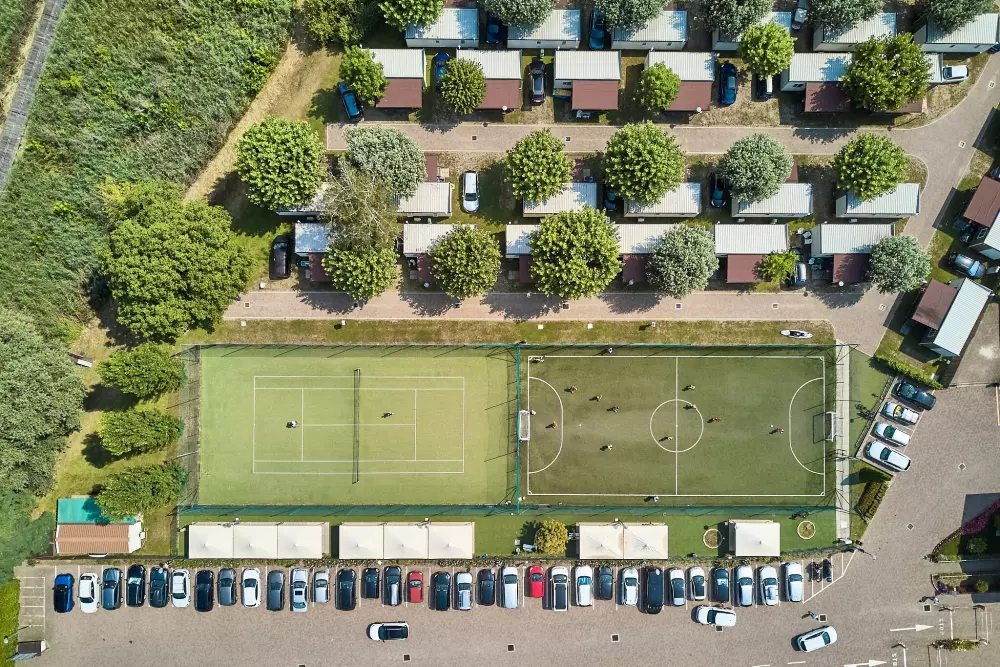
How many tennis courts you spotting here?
1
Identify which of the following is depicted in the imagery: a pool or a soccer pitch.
soccer pitch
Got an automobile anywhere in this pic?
Yes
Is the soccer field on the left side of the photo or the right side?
right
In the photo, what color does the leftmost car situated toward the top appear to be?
black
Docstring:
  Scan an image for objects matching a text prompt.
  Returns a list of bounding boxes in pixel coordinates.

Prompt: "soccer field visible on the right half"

[518,345,836,506]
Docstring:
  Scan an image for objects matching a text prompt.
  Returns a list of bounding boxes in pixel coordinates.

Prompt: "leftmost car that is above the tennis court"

[270,235,292,278]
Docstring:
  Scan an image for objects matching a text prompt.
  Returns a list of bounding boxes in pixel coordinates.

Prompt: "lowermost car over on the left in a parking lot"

[369,621,408,643]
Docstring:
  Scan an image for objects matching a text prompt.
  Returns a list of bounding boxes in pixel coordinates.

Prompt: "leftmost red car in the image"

[407,570,425,603]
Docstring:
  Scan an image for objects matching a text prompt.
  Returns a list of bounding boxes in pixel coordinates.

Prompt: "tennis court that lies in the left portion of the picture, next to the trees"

[199,345,518,506]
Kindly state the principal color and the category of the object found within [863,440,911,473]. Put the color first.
white car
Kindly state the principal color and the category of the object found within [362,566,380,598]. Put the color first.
black car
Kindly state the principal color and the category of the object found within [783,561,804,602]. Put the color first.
white car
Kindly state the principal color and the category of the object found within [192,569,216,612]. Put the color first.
black car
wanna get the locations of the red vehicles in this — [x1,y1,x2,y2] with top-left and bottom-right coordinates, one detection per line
[407,570,425,603]
[528,564,546,598]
